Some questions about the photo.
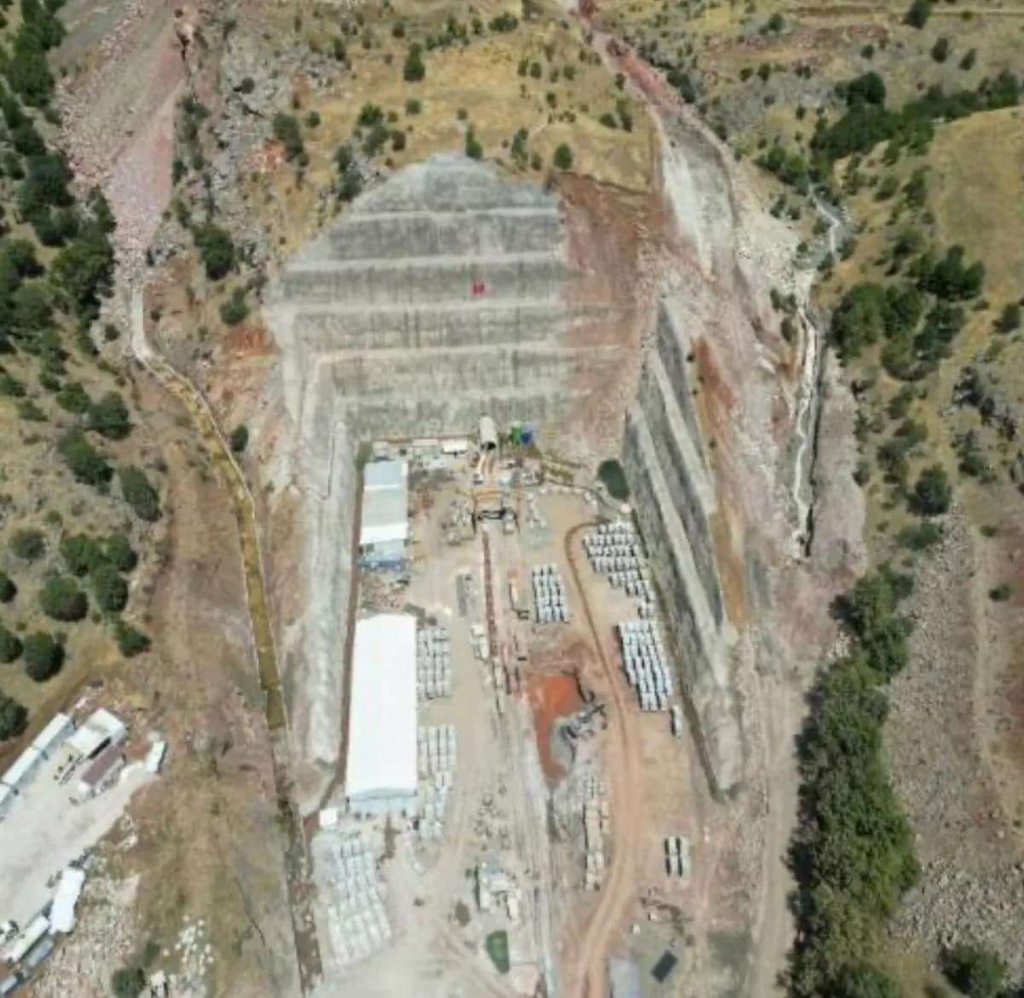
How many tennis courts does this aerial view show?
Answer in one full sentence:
Not a single tennis court can be seen.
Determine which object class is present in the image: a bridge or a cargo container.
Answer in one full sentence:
I can see a cargo container in this picture.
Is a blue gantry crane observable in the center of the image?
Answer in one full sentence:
No, I see no blue gantry crane in the center of the image.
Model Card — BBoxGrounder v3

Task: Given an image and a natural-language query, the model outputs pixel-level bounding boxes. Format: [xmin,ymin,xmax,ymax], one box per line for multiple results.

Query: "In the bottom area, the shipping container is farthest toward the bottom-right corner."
[652,951,677,984]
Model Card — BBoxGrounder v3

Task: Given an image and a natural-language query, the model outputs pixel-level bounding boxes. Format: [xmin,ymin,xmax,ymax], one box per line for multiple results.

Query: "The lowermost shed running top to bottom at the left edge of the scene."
[48,866,90,938]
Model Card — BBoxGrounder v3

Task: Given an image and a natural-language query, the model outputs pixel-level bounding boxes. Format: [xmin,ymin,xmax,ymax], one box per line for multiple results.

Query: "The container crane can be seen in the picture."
[466,492,521,532]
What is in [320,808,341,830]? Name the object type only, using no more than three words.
building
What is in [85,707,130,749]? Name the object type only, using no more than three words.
shed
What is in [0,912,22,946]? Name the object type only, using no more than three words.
truck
